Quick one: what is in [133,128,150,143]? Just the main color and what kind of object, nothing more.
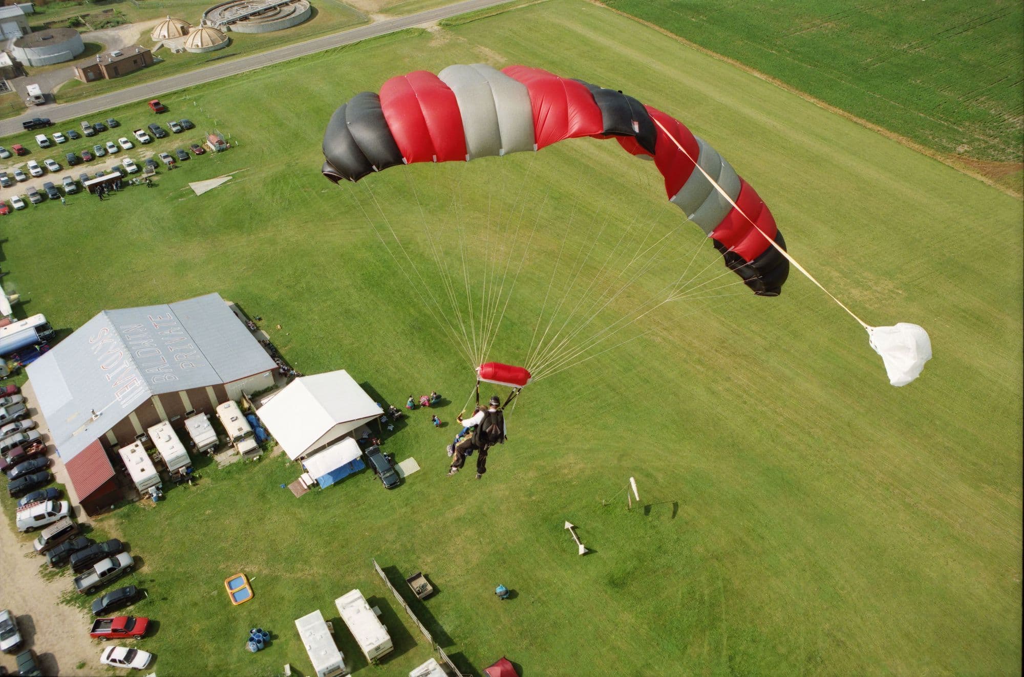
white vehicle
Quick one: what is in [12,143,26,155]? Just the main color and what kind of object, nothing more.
red vehicle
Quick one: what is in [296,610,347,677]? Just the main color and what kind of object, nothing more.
white camper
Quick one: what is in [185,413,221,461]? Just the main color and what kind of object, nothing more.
white camper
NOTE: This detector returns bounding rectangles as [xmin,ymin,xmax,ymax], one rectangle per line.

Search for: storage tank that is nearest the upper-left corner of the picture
[14,27,84,66]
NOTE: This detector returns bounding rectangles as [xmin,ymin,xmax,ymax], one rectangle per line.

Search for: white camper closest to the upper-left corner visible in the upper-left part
[27,84,47,109]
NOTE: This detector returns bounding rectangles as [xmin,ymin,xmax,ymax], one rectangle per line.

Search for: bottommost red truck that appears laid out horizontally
[85,614,154,645]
